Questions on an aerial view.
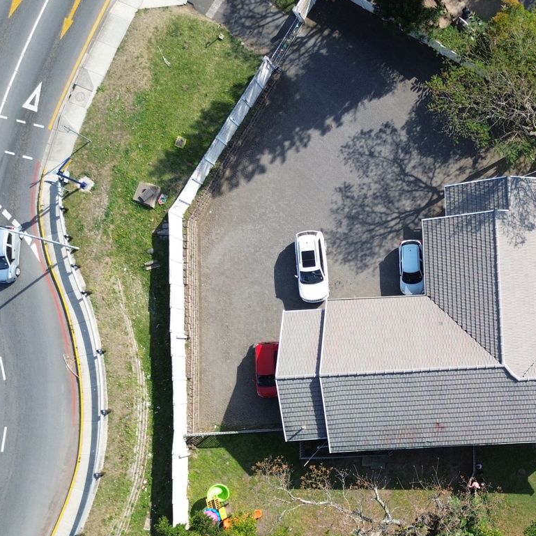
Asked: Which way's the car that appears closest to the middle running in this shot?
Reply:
from top to bottom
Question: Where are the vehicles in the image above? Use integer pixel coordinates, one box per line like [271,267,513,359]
[295,230,331,302]
[0,226,28,285]
[394,239,423,296]
[252,340,280,401]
